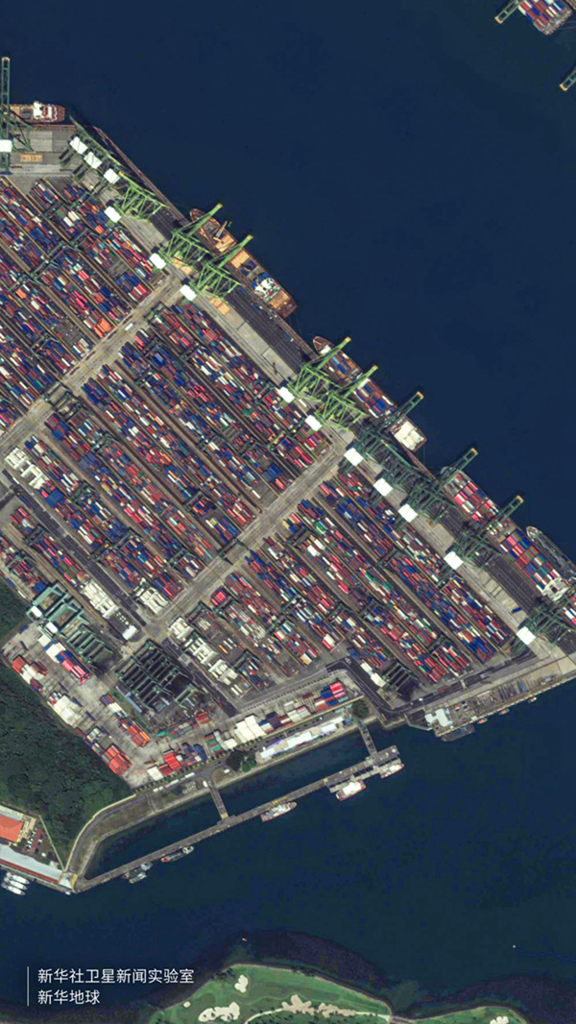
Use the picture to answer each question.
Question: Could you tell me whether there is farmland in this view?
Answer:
No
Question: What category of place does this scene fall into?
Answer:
port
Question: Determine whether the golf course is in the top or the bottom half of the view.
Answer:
bottom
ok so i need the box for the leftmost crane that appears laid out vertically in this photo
[0,57,32,161]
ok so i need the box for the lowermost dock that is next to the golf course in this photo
[75,745,402,892]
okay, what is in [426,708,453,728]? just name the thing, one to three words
building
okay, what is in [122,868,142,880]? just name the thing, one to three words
ship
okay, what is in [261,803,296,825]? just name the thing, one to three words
ship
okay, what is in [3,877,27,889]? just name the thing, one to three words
boat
